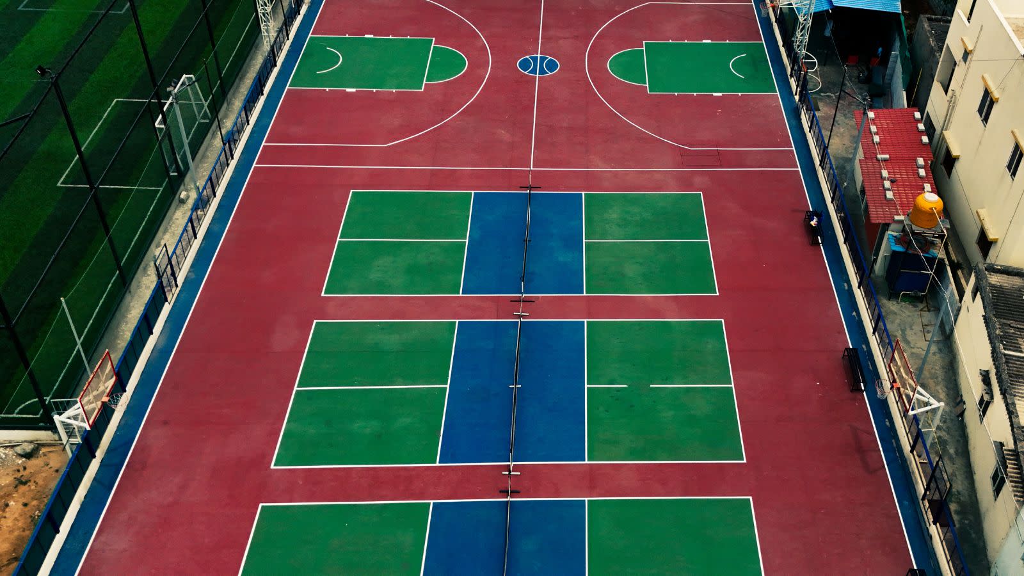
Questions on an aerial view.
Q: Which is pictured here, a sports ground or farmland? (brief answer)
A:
sports ground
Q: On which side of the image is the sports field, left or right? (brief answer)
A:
left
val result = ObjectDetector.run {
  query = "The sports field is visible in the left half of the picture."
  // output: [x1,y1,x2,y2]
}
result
[0,0,273,419]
